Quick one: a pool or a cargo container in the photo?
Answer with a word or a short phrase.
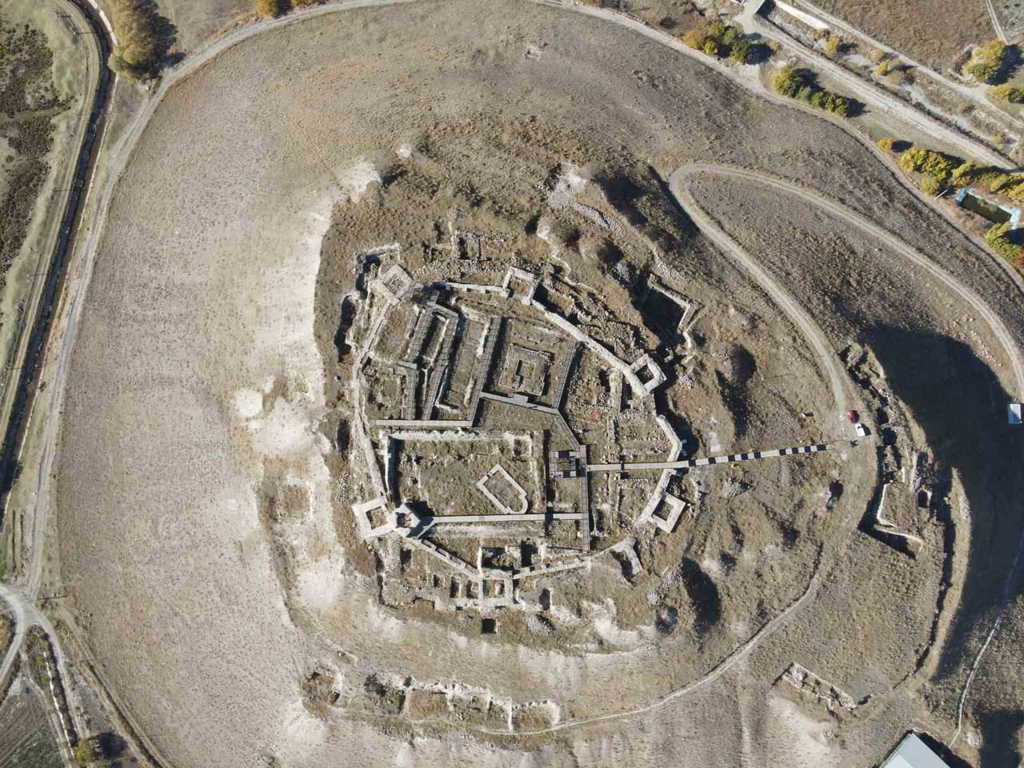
pool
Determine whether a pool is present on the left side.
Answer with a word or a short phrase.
No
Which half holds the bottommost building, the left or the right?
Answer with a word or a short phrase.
right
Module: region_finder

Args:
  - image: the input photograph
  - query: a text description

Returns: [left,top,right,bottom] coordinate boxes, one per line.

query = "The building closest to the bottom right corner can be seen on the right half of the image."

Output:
[877,731,952,768]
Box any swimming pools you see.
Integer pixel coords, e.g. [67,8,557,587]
[961,190,1013,226]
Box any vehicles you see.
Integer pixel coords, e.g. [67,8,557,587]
[848,409,857,423]
[856,423,866,437]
